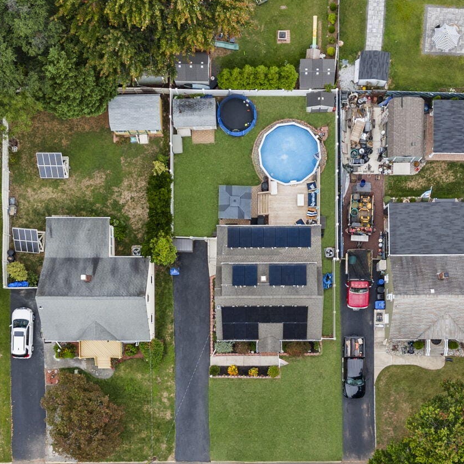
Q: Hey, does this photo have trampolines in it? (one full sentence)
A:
Yes, there's a trampoline here.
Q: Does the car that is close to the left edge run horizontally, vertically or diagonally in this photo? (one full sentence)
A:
Seen from above, the car that is close to the left edge lies vertically.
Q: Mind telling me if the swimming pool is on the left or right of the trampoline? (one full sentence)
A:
You can see the swimming pool positioned to the right of the trampoline.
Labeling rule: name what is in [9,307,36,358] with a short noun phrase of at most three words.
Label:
car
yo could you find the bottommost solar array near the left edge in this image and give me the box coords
[11,228,46,254]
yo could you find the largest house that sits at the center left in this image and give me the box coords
[33,216,156,342]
